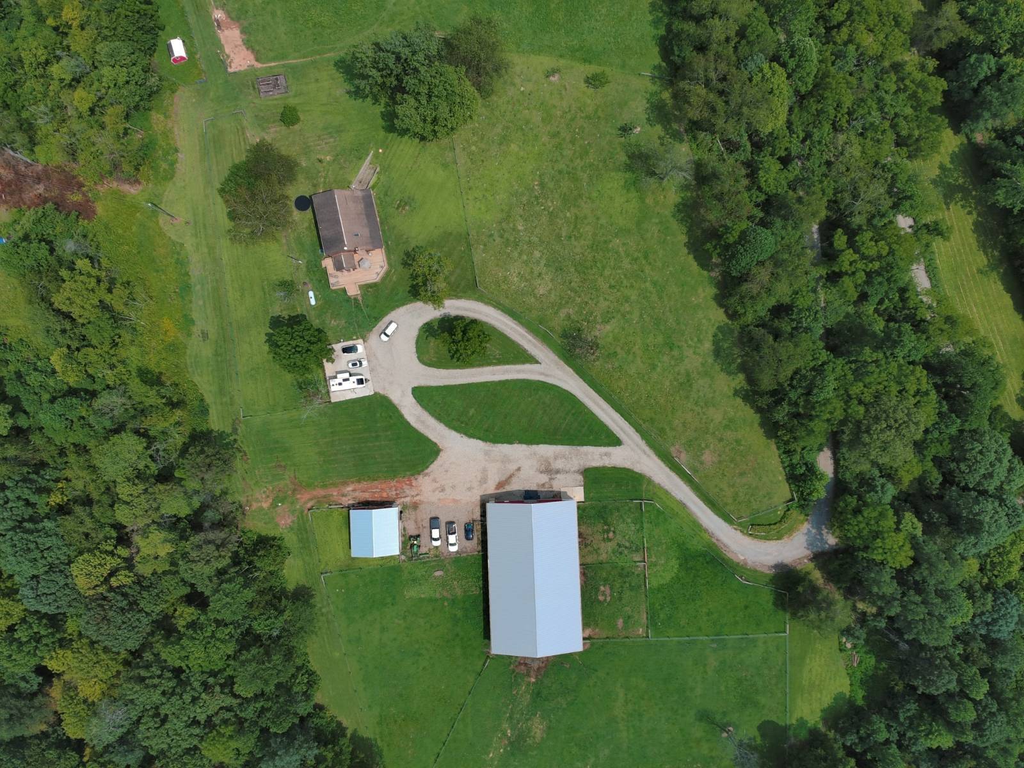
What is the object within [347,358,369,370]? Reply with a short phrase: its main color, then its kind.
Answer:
white vehicle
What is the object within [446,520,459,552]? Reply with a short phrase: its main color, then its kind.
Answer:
white vehicle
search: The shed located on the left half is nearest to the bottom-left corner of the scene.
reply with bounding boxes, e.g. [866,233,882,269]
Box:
[350,507,400,557]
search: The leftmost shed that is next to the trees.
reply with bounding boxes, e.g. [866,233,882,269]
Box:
[166,39,187,64]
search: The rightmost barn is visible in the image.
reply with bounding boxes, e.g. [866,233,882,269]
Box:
[486,499,582,657]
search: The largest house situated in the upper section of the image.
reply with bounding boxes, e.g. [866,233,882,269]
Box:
[312,186,384,272]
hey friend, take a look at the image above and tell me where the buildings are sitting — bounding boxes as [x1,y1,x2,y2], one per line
[166,39,187,64]
[350,507,400,557]
[486,499,582,657]
[312,186,384,272]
